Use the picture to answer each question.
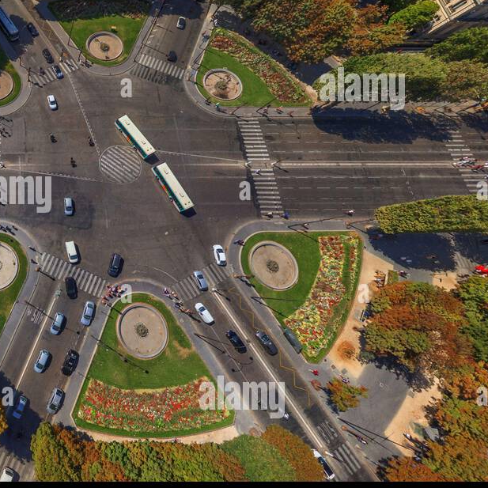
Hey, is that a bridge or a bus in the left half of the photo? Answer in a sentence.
Visible in the left half of the photo is a bus.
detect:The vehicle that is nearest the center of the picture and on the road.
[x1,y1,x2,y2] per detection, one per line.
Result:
[213,245,227,265]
